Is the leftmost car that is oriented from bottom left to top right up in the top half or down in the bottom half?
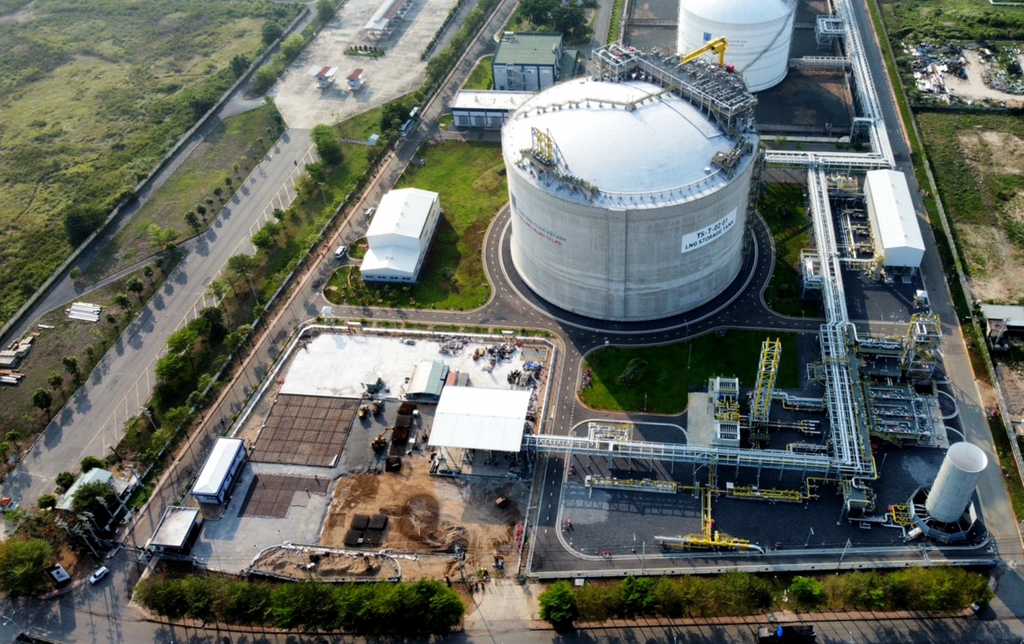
bottom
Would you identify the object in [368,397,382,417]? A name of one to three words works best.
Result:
work vehicle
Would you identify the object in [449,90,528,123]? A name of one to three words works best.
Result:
building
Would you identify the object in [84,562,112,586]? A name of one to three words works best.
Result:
car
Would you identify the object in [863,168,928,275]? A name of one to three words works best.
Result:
shed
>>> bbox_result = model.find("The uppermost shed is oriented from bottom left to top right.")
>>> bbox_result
[357,0,426,45]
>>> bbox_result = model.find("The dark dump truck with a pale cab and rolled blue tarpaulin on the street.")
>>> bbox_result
[761,622,811,643]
